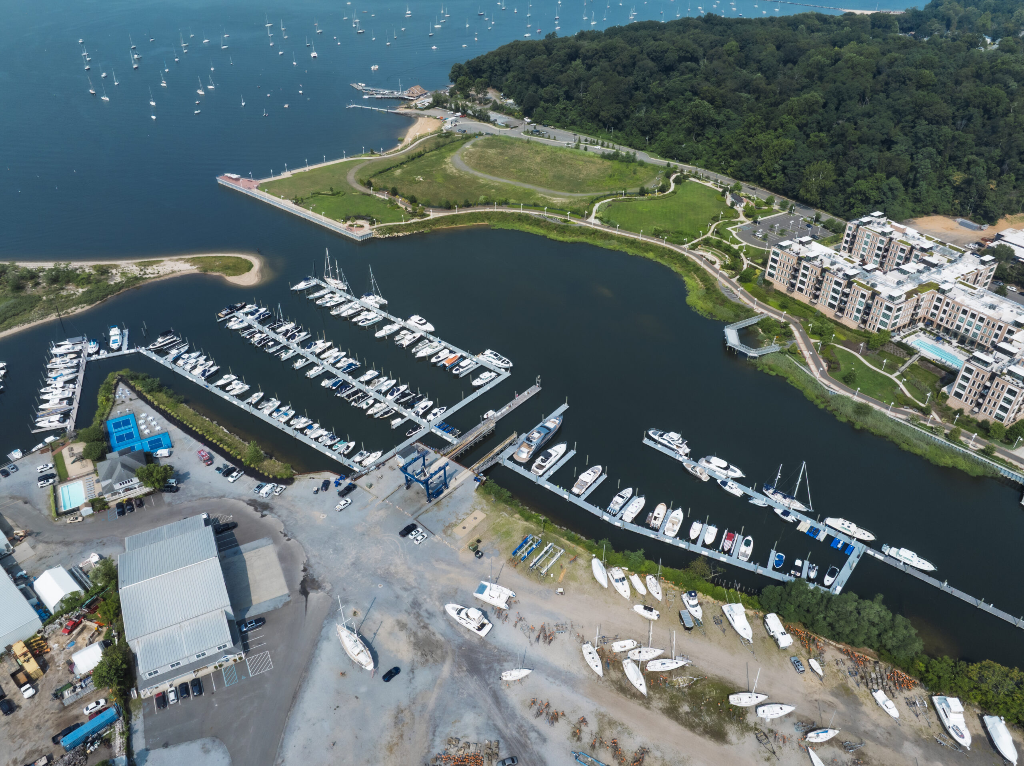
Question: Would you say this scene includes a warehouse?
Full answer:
Yes, the frame does contain a warehouse.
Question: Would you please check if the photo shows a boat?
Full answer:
Yes, the image includes a boat.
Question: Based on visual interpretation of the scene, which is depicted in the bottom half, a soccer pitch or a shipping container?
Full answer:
It is a shipping container that can be seen in the bottom half.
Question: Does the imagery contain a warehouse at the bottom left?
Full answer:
Yes, looking at the bottom left, one can make out a warehouse.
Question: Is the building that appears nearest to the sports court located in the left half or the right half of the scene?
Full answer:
The building that appears nearest to the sports court appears in the left half of the scene.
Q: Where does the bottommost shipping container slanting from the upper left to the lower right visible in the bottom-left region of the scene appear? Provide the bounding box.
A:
[16,647,48,686]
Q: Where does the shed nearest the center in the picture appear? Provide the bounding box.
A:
[395,445,420,466]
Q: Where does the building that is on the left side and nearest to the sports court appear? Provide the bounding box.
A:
[104,450,154,509]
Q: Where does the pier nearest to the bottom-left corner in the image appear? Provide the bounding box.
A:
[31,342,89,434]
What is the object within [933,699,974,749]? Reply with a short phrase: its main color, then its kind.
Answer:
white boat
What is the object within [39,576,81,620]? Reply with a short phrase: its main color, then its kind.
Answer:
white tent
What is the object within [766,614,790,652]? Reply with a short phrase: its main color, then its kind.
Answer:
white camper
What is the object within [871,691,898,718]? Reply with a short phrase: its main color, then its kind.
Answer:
white boat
